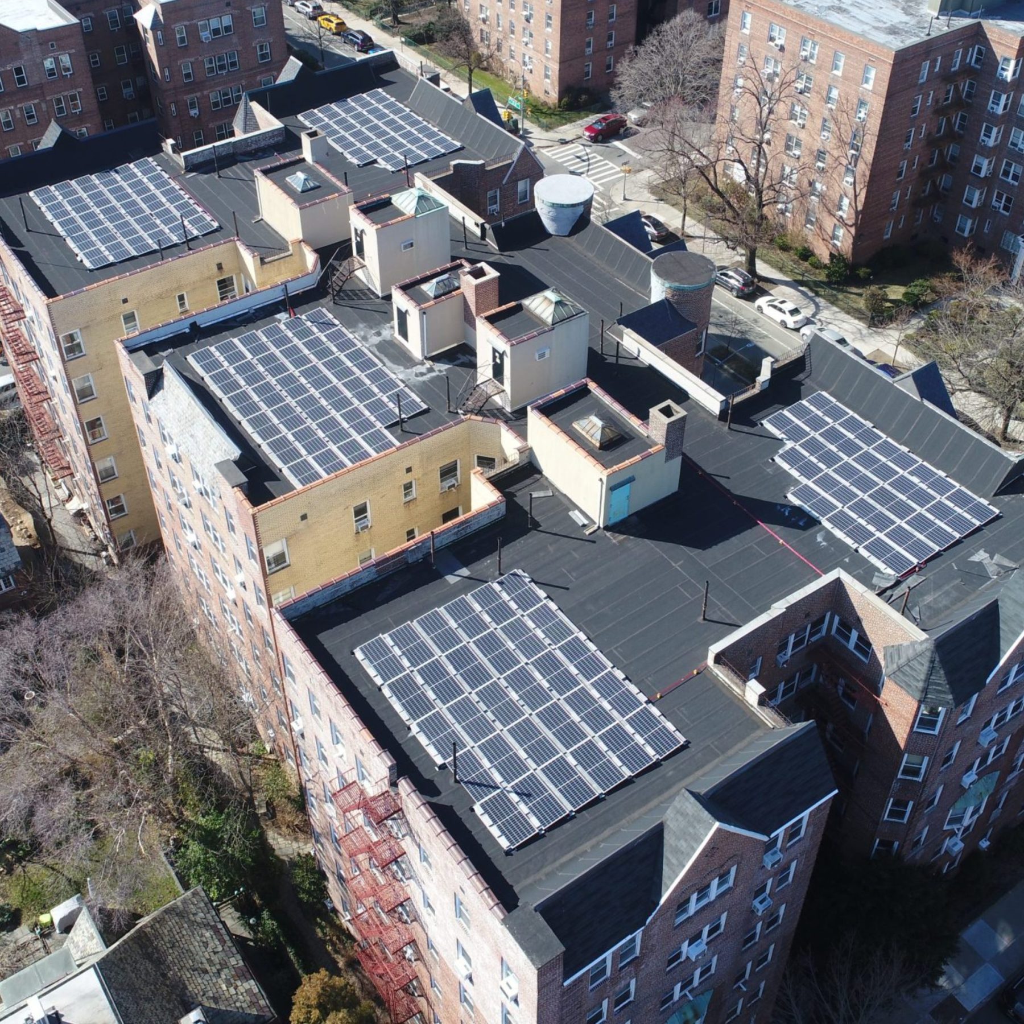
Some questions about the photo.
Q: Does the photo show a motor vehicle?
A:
Yes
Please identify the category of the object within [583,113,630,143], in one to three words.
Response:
car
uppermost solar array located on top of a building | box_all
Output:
[297,94,462,174]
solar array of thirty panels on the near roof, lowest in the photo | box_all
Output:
[349,568,688,861]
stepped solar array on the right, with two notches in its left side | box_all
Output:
[758,394,1003,584]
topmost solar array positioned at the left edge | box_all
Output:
[26,163,213,275]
